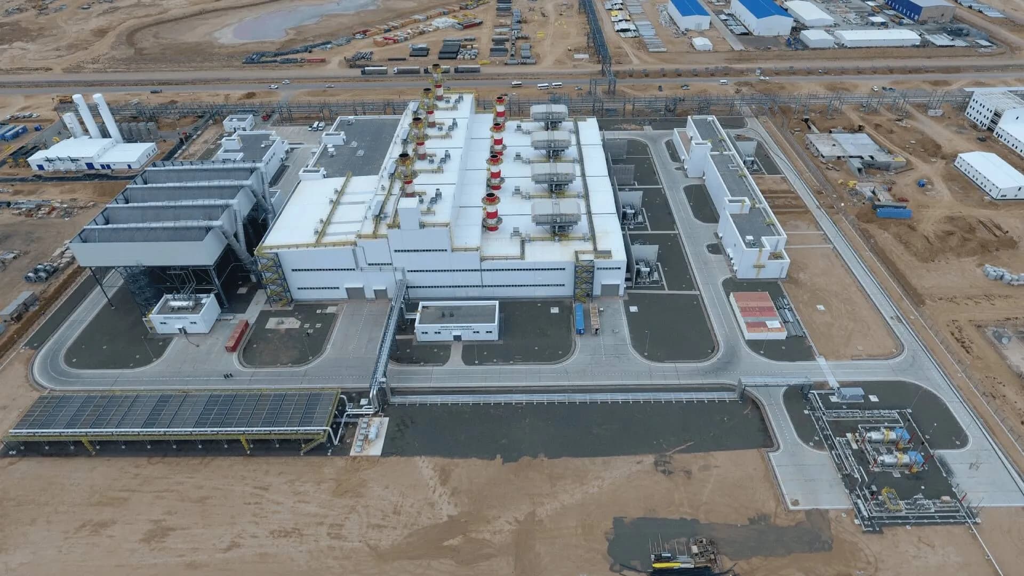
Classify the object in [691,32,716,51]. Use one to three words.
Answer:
building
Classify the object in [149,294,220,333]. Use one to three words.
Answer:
building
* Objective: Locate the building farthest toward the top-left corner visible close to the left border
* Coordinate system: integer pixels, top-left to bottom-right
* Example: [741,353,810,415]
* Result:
[23,132,162,170]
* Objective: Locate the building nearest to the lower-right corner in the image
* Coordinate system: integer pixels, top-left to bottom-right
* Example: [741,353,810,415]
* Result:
[833,384,868,402]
